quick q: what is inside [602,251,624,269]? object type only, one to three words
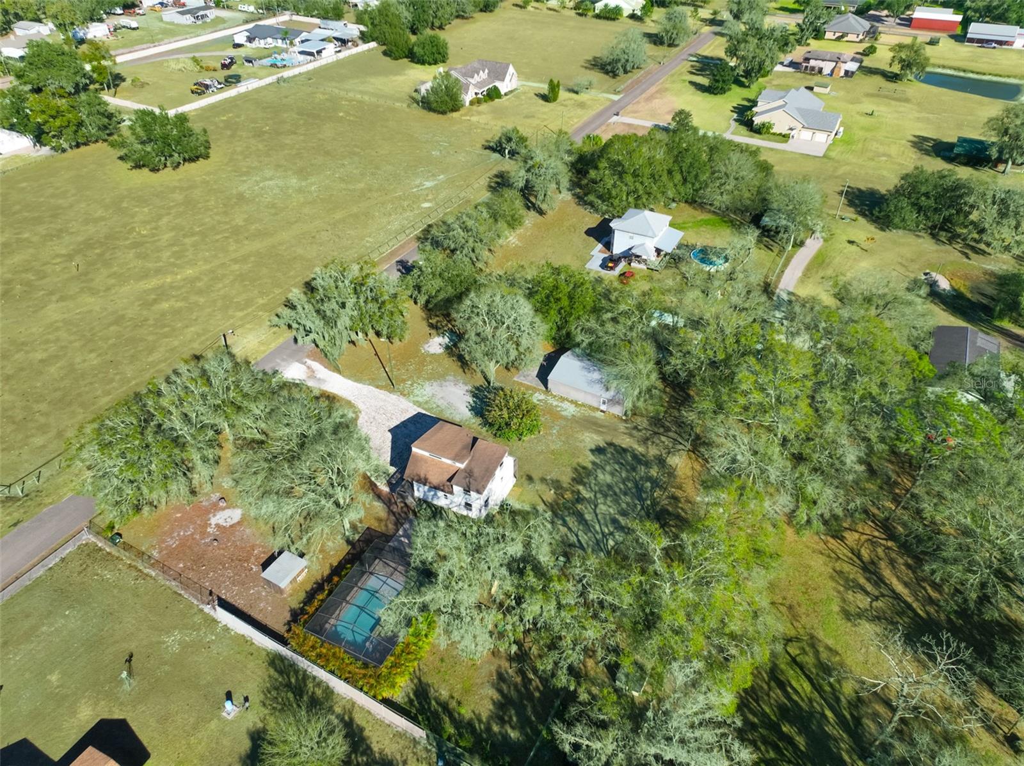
vehicle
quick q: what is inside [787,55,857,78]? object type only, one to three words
house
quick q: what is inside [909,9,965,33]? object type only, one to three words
barn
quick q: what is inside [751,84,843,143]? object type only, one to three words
house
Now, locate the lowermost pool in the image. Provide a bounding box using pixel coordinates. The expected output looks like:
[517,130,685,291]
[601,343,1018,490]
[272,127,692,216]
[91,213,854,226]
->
[314,555,440,665]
